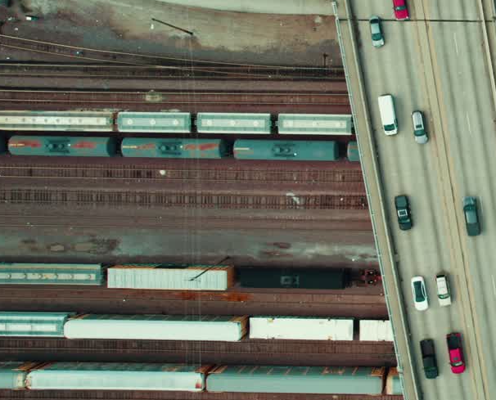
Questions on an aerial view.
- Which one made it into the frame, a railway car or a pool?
railway car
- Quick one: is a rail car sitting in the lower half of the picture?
Yes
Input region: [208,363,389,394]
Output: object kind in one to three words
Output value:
rail car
